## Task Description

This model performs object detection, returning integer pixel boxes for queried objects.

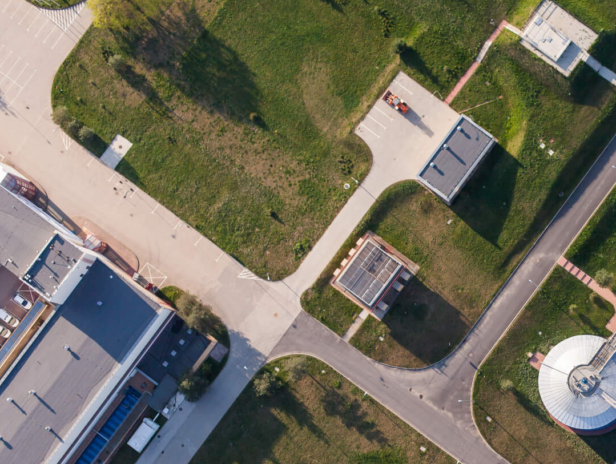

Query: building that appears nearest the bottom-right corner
[330,231,420,320]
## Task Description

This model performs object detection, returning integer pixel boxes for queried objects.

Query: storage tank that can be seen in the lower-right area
[538,335,616,436]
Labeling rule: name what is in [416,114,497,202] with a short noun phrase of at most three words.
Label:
building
